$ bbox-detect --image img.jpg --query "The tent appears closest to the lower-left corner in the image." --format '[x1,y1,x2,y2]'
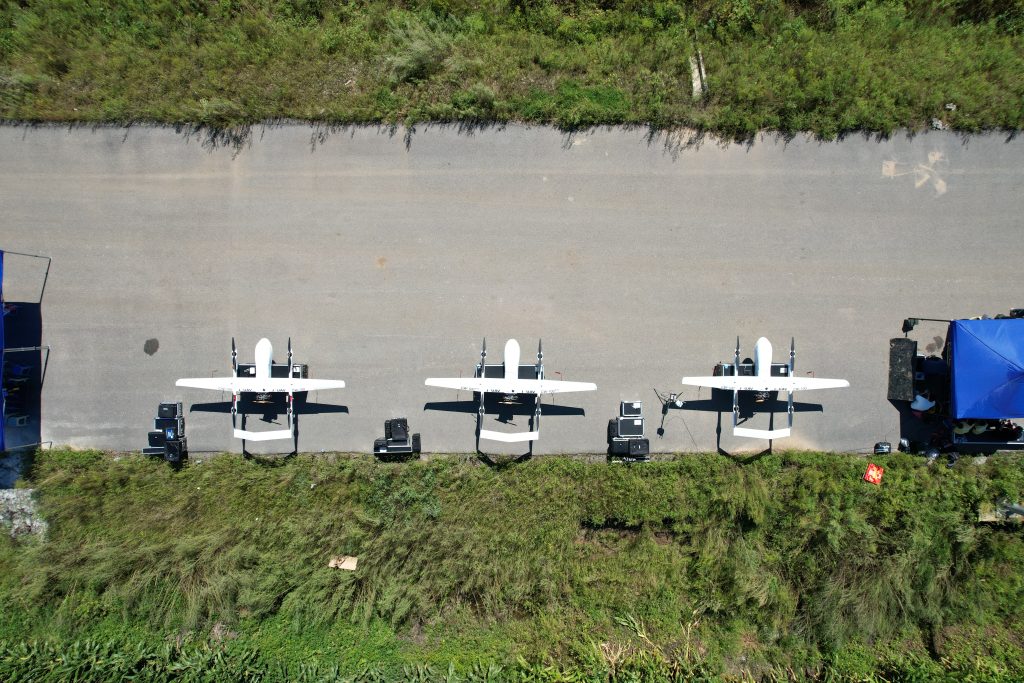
[0,348,52,455]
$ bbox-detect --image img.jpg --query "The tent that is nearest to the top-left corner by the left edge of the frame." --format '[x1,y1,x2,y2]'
[0,249,50,351]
